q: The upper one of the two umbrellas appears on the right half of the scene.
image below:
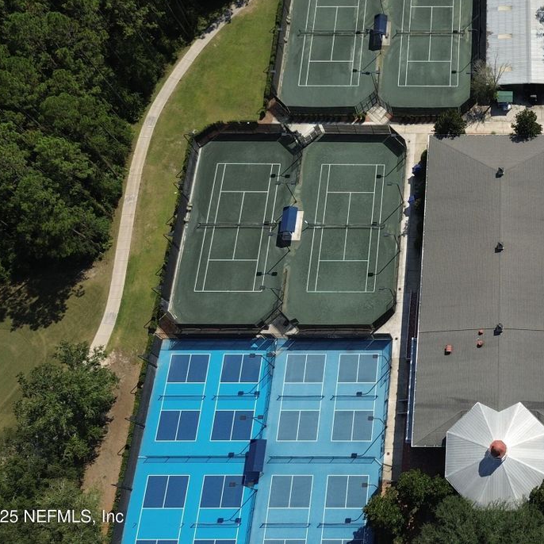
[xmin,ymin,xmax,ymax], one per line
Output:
[410,164,424,177]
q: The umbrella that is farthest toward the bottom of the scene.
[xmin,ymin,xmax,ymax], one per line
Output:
[405,194,420,208]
